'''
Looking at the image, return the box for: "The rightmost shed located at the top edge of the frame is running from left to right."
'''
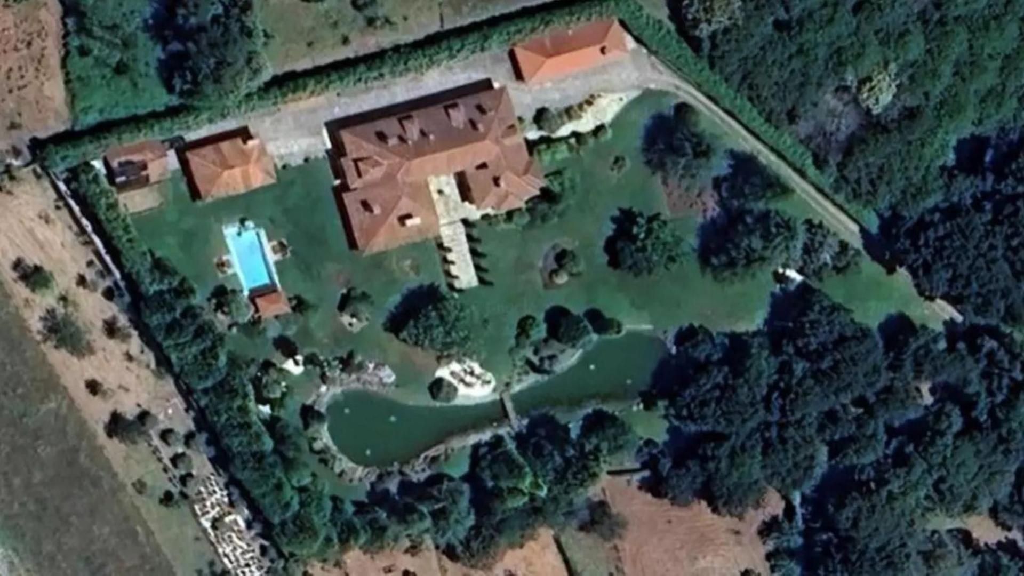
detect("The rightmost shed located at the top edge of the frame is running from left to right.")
[512,19,631,83]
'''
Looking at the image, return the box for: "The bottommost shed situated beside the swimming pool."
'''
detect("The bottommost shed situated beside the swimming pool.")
[253,291,291,319]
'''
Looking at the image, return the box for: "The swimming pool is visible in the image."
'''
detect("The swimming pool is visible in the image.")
[222,224,283,296]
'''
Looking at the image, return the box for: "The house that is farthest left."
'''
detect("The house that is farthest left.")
[104,140,171,187]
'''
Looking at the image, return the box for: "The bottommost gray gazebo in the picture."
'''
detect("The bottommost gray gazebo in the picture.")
[426,373,455,401]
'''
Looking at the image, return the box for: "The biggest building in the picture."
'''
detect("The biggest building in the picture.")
[338,86,543,256]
